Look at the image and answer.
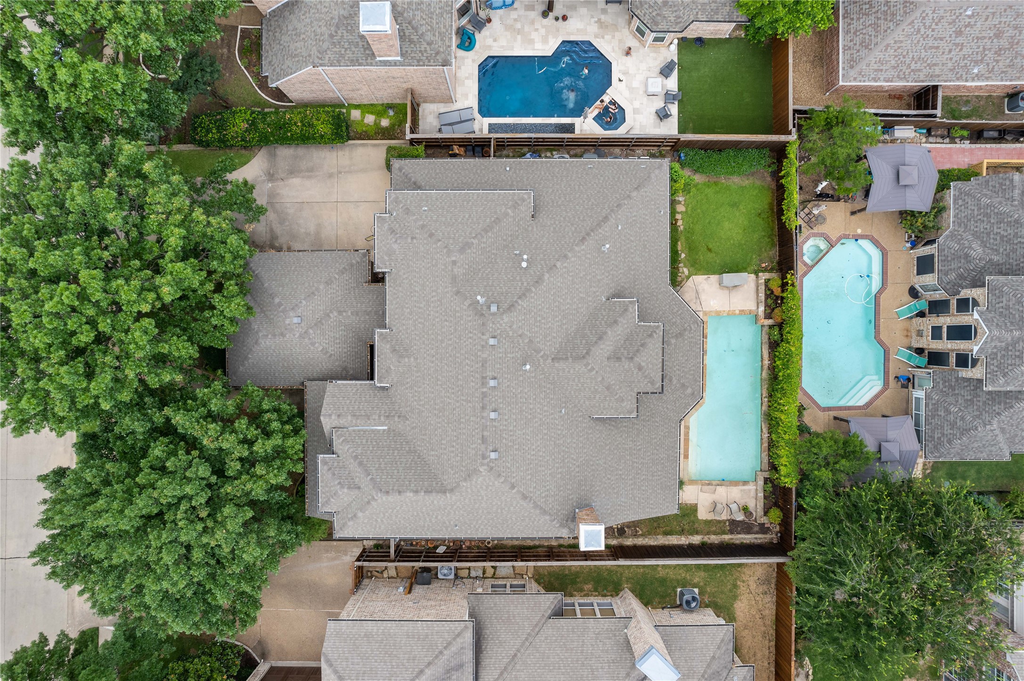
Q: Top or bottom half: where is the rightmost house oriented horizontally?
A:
top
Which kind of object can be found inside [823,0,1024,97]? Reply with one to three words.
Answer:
house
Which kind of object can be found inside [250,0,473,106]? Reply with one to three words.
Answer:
house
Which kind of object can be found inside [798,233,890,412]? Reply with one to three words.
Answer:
swimming pool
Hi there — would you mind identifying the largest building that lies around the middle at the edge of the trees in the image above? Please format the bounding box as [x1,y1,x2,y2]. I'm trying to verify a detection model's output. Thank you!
[224,156,706,550]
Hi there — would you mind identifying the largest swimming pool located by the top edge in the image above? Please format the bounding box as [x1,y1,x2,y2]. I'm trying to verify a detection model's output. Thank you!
[473,34,617,122]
